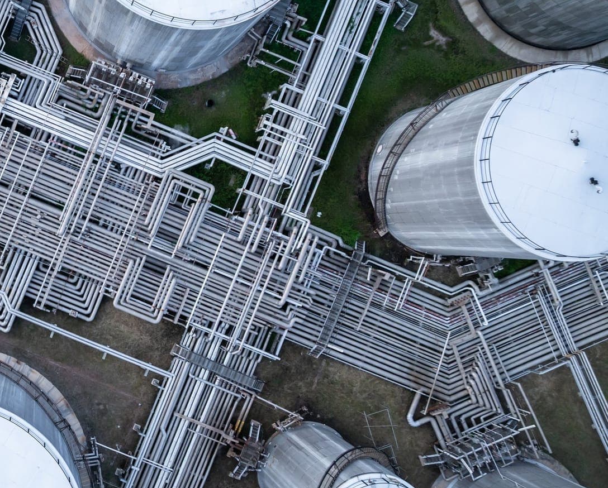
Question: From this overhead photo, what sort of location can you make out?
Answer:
industrial area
